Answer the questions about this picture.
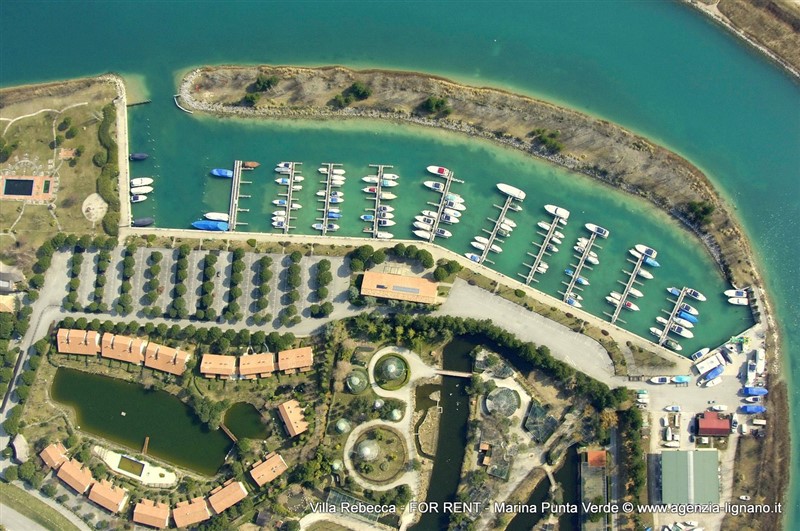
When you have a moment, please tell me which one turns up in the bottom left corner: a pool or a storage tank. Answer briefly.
pool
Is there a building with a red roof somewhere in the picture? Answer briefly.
Yes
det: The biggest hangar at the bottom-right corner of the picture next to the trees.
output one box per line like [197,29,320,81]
[658,447,719,504]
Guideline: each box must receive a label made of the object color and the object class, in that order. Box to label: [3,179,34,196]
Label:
black swimming pool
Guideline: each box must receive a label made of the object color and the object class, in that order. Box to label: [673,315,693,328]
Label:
white boat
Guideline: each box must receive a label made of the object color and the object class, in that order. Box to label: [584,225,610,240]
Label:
white boat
